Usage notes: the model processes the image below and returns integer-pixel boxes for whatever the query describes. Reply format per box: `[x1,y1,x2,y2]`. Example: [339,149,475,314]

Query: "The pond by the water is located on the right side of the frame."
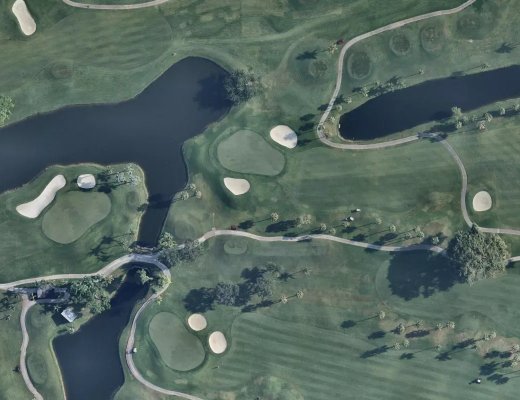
[339,64,520,139]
